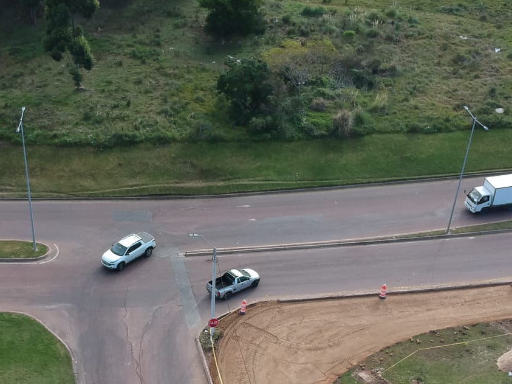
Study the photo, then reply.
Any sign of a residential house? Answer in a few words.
No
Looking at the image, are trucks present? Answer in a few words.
Yes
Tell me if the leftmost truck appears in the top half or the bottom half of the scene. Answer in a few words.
bottom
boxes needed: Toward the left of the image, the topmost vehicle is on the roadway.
[100,232,158,271]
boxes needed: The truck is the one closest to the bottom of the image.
[207,266,261,300]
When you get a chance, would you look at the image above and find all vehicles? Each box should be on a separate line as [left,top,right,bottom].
[100,232,158,271]
[468,173,512,213]
[207,266,261,300]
